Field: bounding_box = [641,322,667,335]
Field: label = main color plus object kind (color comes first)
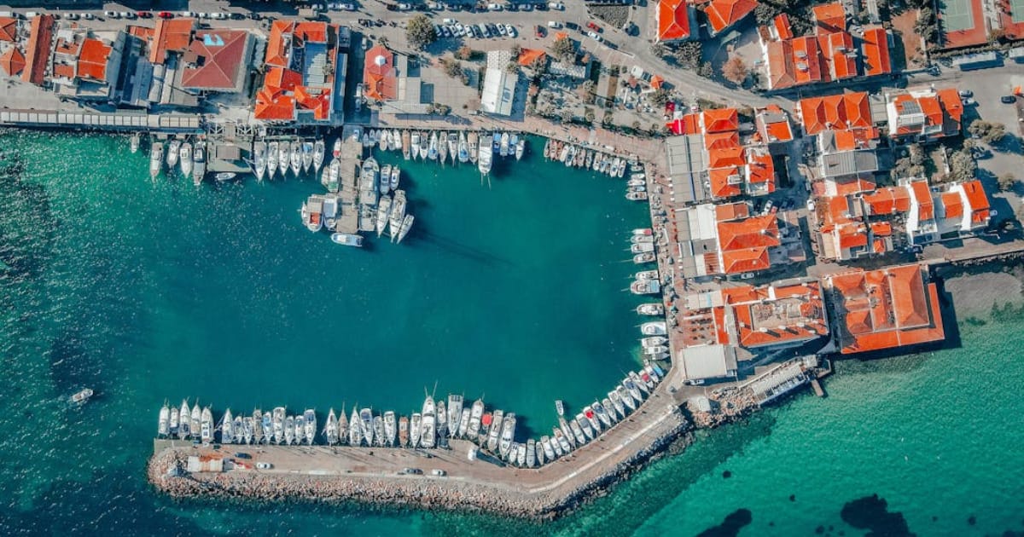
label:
white boat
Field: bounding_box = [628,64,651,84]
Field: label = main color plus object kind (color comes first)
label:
white vehicle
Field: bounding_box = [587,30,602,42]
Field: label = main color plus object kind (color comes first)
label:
white vehicle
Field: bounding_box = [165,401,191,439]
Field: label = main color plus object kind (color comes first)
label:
white boat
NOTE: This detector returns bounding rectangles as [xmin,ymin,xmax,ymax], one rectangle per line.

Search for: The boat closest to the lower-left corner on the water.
[70,390,92,404]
